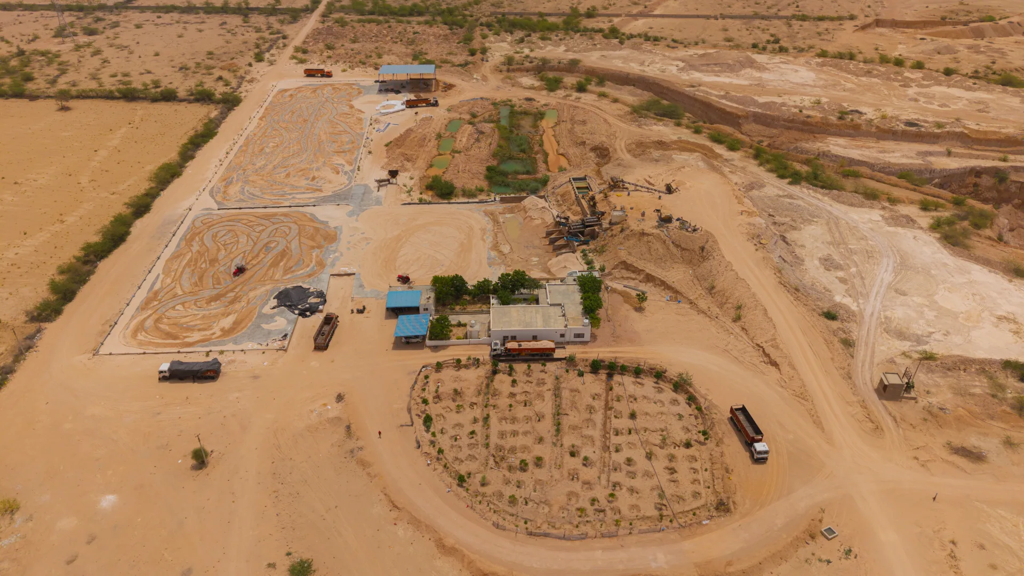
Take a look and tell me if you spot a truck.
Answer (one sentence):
Yes, there's a truck down there.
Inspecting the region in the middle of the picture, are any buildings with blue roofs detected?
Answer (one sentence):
Yes, a building with a blue roof shows up in the middle of the picture.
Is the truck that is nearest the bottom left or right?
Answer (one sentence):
The truck that is nearest the bottom is on the right side of the image.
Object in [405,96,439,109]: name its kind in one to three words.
vehicle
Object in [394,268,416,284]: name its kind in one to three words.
work vehicle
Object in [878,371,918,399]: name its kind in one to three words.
shed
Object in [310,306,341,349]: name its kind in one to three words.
truck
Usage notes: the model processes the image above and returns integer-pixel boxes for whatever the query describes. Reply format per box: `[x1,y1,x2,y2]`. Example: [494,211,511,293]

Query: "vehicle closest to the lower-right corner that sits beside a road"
[733,405,775,460]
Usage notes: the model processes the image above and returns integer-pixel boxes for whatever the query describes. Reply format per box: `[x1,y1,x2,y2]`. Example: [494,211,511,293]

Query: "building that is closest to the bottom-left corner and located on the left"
[385,286,431,319]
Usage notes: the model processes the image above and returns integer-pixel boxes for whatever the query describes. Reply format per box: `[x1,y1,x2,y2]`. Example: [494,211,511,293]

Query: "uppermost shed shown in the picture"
[375,62,440,92]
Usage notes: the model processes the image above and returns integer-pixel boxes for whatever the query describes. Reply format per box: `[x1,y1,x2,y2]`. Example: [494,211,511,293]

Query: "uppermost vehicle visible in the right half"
[648,197,672,224]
